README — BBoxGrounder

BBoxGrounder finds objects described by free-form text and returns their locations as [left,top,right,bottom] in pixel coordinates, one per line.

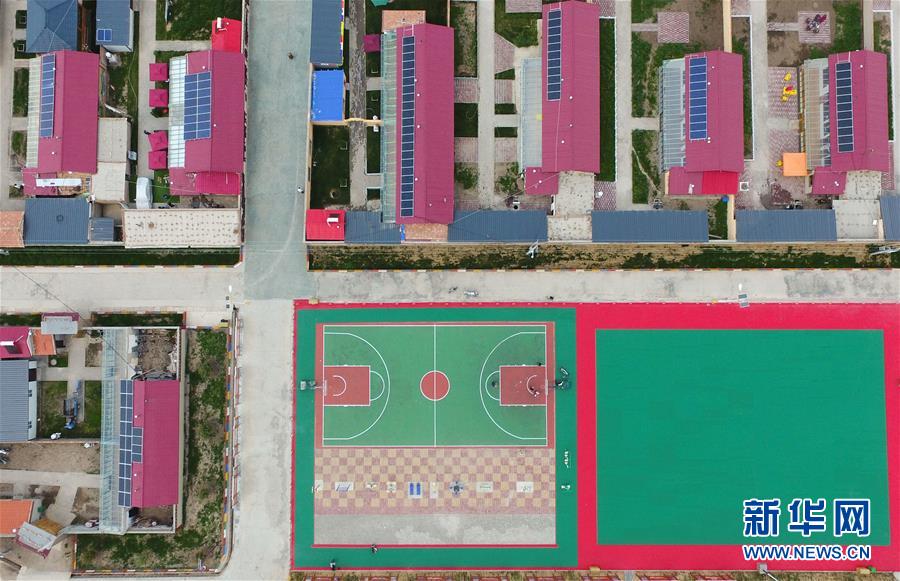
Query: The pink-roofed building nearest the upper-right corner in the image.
[793,48,889,184]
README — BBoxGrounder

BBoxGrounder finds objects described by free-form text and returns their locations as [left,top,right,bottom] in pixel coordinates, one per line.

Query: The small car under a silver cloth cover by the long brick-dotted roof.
[135,178,153,208]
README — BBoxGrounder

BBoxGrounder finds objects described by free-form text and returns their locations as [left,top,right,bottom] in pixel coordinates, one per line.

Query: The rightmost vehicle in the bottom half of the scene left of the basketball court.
[60,382,77,430]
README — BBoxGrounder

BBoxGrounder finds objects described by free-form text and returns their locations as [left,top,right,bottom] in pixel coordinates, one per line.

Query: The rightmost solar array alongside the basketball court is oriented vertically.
[402,29,415,217]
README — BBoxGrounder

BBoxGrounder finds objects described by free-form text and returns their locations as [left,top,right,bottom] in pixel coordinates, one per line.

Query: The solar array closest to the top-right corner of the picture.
[835,55,854,154]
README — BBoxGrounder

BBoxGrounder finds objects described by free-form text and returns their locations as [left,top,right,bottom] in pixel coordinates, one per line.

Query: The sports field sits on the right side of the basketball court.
[577,305,900,572]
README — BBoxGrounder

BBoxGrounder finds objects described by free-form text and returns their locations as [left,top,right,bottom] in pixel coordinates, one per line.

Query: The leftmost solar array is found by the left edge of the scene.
[40,52,54,140]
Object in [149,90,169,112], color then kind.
pink gazebo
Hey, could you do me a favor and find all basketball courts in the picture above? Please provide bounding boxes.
[292,305,577,570]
